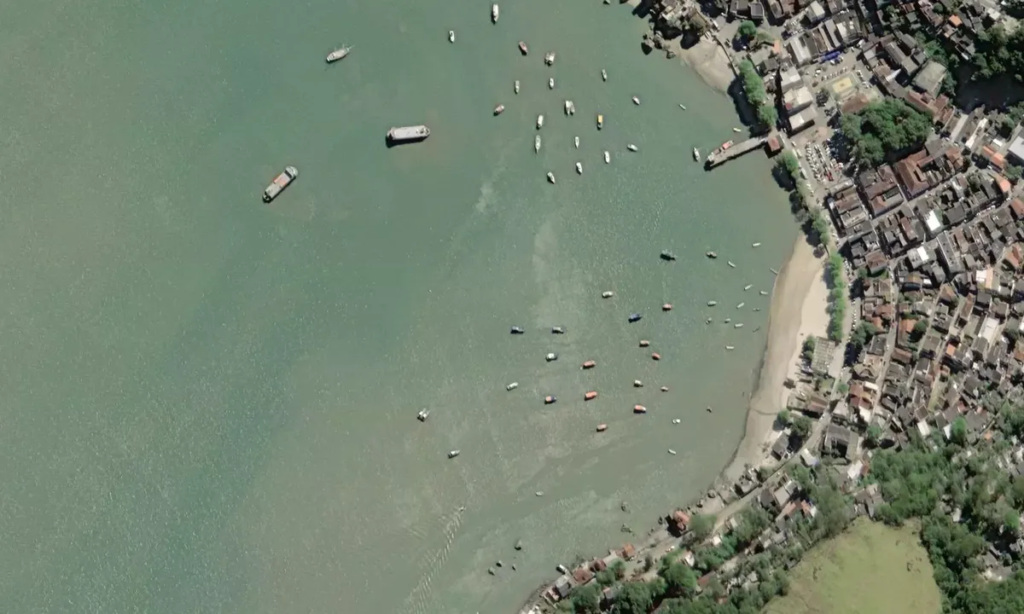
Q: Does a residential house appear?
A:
Yes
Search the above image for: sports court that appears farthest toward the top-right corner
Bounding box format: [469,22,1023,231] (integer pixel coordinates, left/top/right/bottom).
[825,71,859,98]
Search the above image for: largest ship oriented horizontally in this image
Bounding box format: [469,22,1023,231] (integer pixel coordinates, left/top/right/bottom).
[387,127,429,141]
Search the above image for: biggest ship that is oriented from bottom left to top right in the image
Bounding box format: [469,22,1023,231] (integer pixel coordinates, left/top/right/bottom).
[263,167,297,201]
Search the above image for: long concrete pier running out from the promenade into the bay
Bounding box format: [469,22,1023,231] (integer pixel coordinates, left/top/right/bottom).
[710,135,768,169]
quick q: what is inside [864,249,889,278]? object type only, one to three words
building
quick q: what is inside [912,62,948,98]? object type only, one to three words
building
